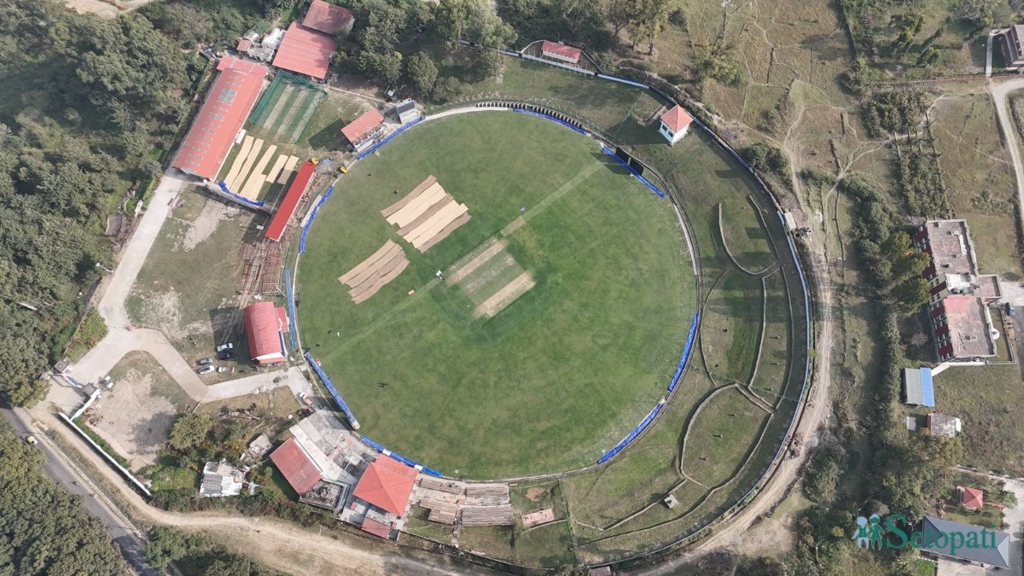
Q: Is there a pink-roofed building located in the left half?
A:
Yes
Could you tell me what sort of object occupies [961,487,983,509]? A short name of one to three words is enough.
gazebo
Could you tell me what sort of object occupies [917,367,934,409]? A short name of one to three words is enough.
shed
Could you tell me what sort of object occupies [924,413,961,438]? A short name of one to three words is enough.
house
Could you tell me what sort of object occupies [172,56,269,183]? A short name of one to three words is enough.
building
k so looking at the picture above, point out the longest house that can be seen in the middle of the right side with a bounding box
[915,218,1004,364]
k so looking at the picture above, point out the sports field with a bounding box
[295,110,696,479]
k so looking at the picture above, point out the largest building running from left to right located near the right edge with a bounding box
[916,518,1009,569]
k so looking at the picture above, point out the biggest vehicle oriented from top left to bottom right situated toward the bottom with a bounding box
[298,390,314,408]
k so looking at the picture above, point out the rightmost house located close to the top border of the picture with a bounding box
[995,25,1024,76]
